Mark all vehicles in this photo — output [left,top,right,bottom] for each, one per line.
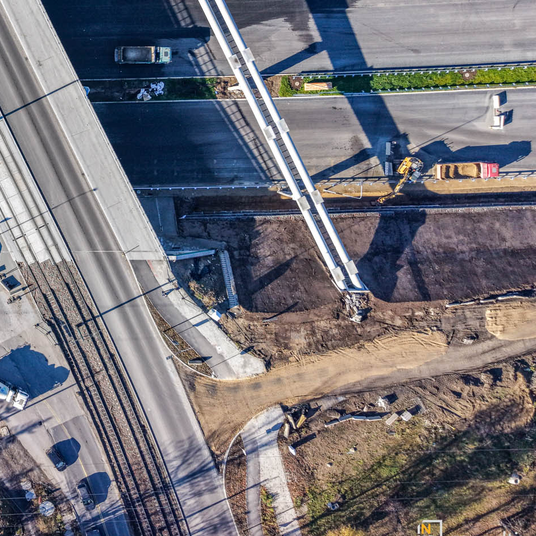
[372,141,421,206]
[75,478,96,512]
[44,443,67,473]
[0,381,33,418]
[114,44,172,66]
[429,159,501,181]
